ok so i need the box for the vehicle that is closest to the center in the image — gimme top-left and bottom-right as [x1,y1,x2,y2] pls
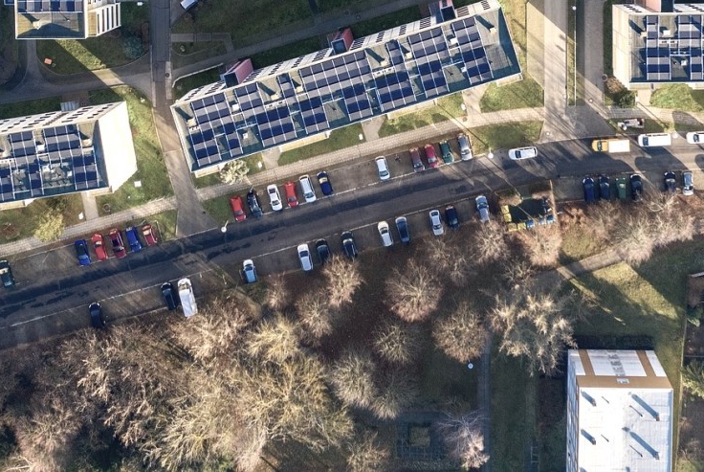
[341,230,358,261]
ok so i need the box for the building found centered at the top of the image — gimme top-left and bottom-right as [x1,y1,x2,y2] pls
[171,0,521,182]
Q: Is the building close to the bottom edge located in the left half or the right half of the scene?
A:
right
